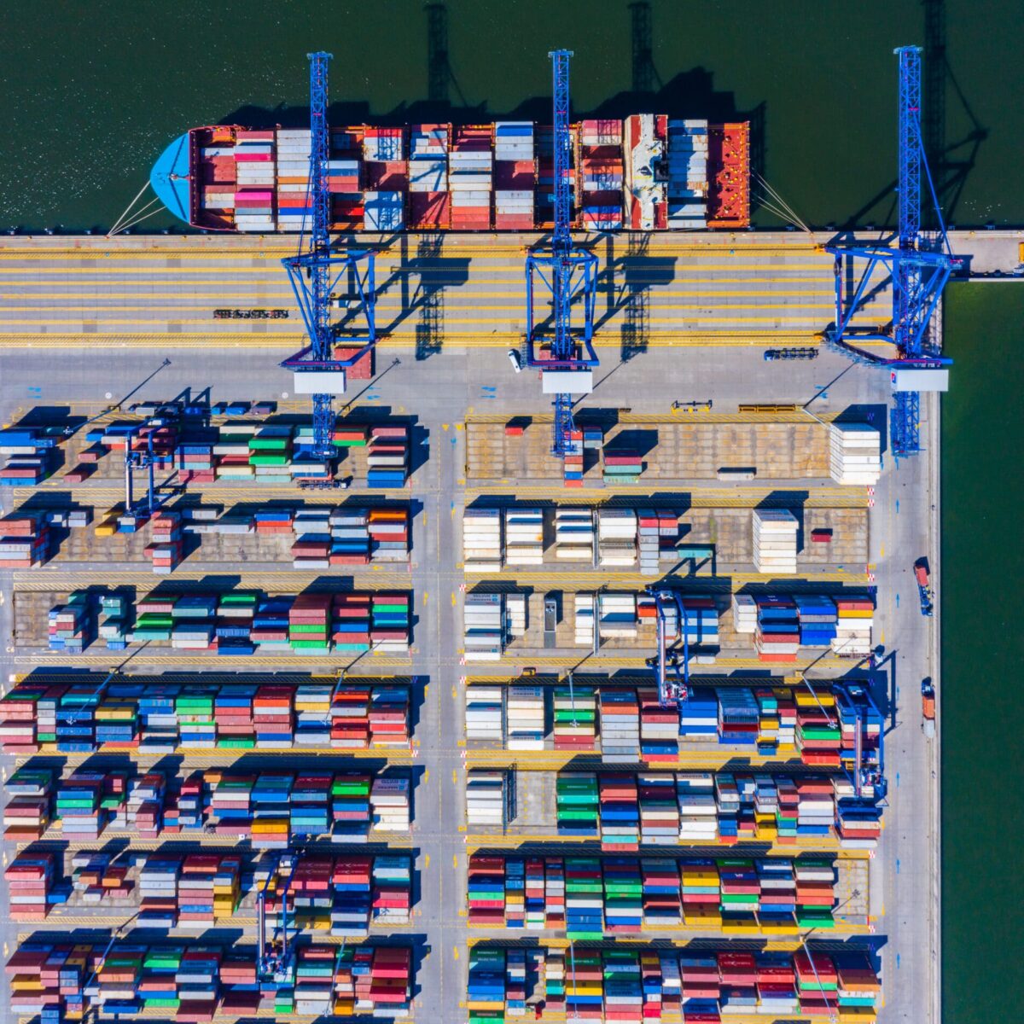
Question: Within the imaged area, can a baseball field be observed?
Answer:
No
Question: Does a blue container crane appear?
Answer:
Yes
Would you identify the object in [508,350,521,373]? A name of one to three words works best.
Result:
vehicle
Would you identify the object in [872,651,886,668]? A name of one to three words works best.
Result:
vehicle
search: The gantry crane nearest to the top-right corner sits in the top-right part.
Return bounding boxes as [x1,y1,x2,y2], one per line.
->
[819,46,963,458]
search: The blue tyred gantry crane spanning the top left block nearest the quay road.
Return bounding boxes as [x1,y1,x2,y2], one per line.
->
[121,416,186,517]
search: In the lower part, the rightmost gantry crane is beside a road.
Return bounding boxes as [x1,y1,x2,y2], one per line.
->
[829,679,887,801]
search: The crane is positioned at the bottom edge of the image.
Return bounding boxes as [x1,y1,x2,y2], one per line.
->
[255,845,309,980]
